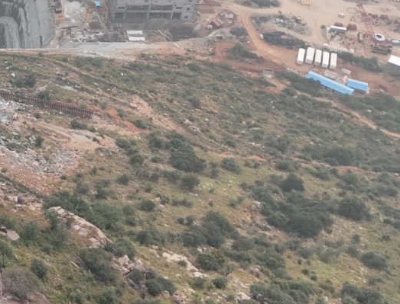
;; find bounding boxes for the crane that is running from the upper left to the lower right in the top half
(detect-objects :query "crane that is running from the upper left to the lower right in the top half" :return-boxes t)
[352,4,399,54]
